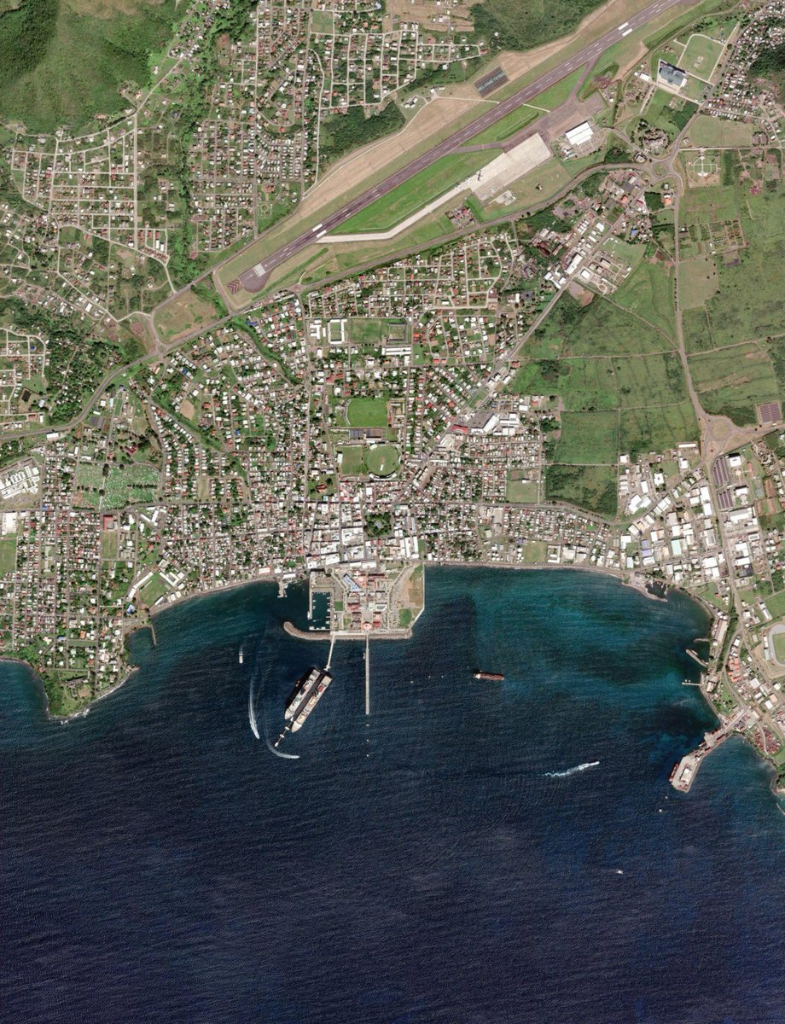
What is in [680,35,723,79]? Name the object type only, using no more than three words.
sports field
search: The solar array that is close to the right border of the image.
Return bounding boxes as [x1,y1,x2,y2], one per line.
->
[756,401,783,425]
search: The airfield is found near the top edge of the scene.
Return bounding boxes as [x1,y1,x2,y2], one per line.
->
[228,0,681,293]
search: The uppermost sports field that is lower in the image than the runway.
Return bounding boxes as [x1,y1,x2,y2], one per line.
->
[351,320,381,343]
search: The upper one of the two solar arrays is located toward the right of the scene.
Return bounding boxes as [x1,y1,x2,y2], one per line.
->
[474,66,509,98]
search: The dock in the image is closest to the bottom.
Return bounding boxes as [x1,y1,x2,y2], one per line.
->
[672,710,757,792]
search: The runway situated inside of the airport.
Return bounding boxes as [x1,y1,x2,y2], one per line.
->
[230,0,679,293]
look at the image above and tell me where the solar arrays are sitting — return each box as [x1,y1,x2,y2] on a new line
[756,401,783,425]
[474,66,509,98]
